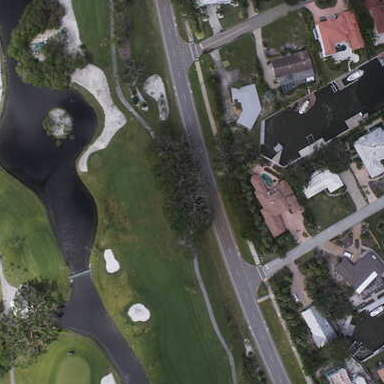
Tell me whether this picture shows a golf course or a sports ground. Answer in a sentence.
It's a golf course.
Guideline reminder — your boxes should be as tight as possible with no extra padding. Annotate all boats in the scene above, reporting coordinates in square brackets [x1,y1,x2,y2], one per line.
[370,308,383,316]
[299,102,308,114]
[346,71,363,83]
